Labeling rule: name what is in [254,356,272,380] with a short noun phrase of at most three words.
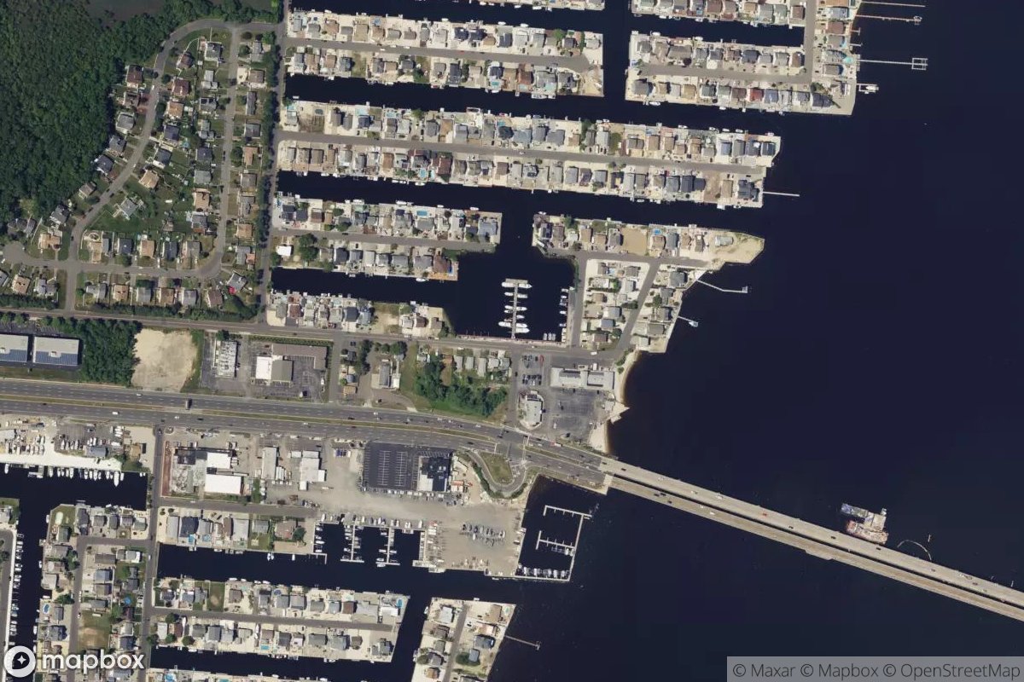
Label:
building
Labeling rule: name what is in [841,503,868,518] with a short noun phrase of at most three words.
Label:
ship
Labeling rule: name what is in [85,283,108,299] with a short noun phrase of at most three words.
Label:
house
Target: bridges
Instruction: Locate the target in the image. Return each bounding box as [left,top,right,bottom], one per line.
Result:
[598,458,1024,608]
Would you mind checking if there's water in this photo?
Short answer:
Yes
